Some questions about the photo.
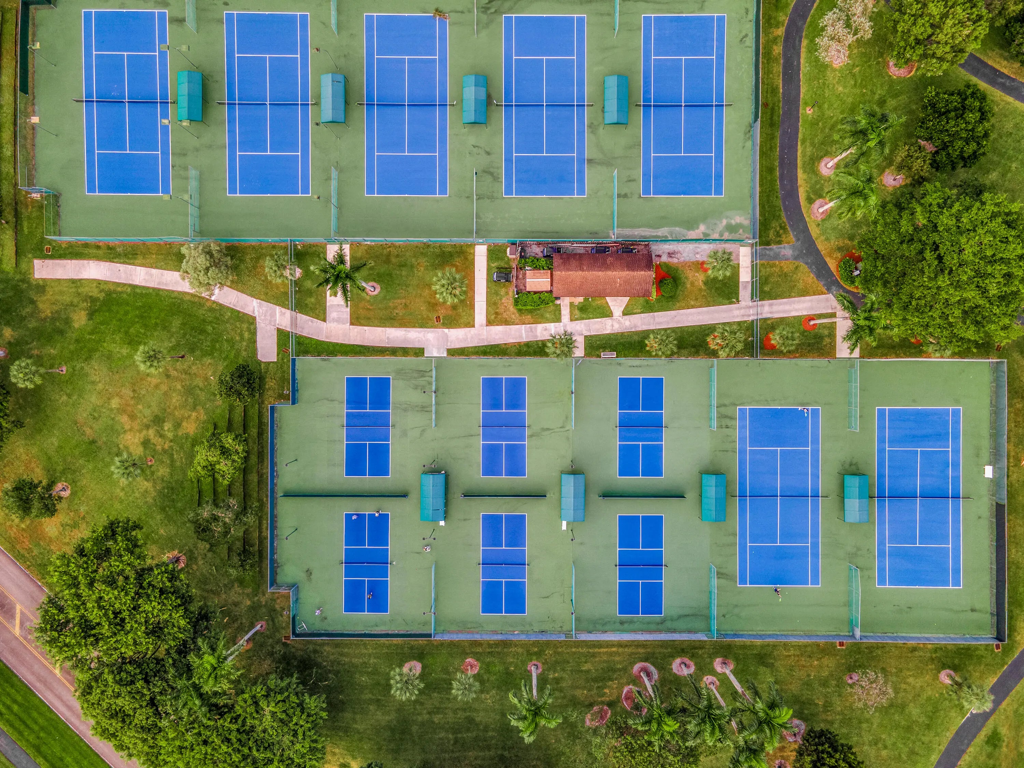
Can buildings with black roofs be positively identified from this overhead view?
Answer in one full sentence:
No, there's no building with a black roof here.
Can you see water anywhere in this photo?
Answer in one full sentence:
No, no water is visible.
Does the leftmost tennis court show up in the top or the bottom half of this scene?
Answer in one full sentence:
Seen from above, the leftmost tennis court lies in the top half of the view.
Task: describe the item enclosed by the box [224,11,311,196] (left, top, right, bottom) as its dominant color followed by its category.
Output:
blue tennis court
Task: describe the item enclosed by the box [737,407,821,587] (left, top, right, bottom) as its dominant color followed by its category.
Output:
blue tennis court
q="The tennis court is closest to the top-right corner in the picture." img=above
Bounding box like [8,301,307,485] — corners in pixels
[641,14,727,197]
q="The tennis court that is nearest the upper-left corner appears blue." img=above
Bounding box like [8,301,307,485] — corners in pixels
[82,10,172,195]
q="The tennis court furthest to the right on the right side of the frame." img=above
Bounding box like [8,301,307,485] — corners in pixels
[875,407,963,588]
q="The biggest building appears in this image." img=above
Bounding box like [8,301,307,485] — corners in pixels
[553,253,654,297]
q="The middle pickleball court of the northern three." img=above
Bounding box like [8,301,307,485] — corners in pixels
[481,376,527,477]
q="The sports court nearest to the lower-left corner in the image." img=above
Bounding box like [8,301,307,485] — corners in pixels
[343,513,390,614]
